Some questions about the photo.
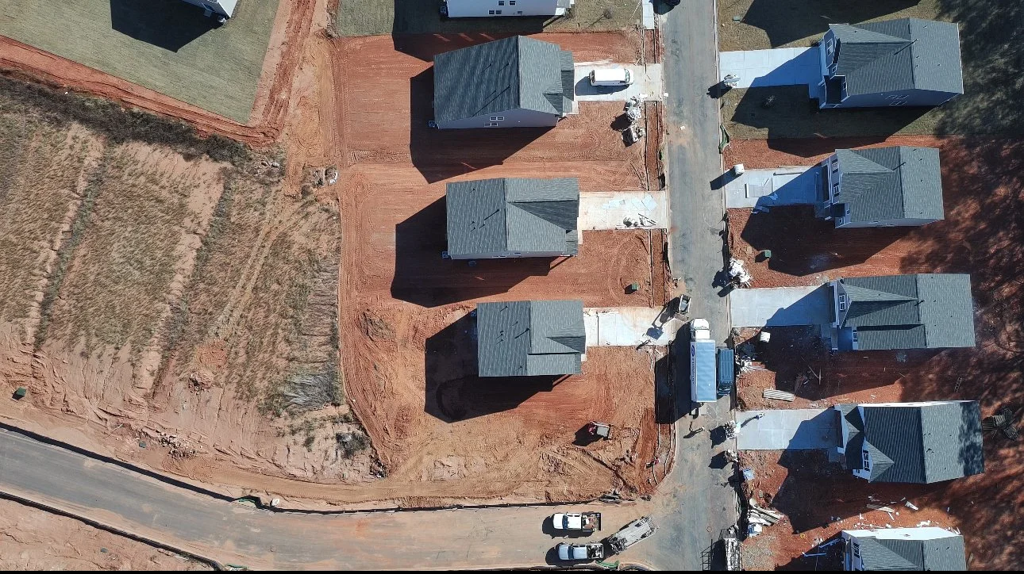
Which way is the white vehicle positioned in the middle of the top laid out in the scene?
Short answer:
from side to side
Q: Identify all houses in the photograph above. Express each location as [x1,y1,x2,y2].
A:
[446,178,580,258]
[830,398,985,485]
[822,273,975,349]
[176,0,236,17]
[814,16,964,111]
[833,526,967,574]
[815,145,948,229]
[433,35,574,129]
[442,0,573,16]
[476,300,586,378]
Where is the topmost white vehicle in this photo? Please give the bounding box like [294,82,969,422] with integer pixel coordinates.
[590,66,633,86]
